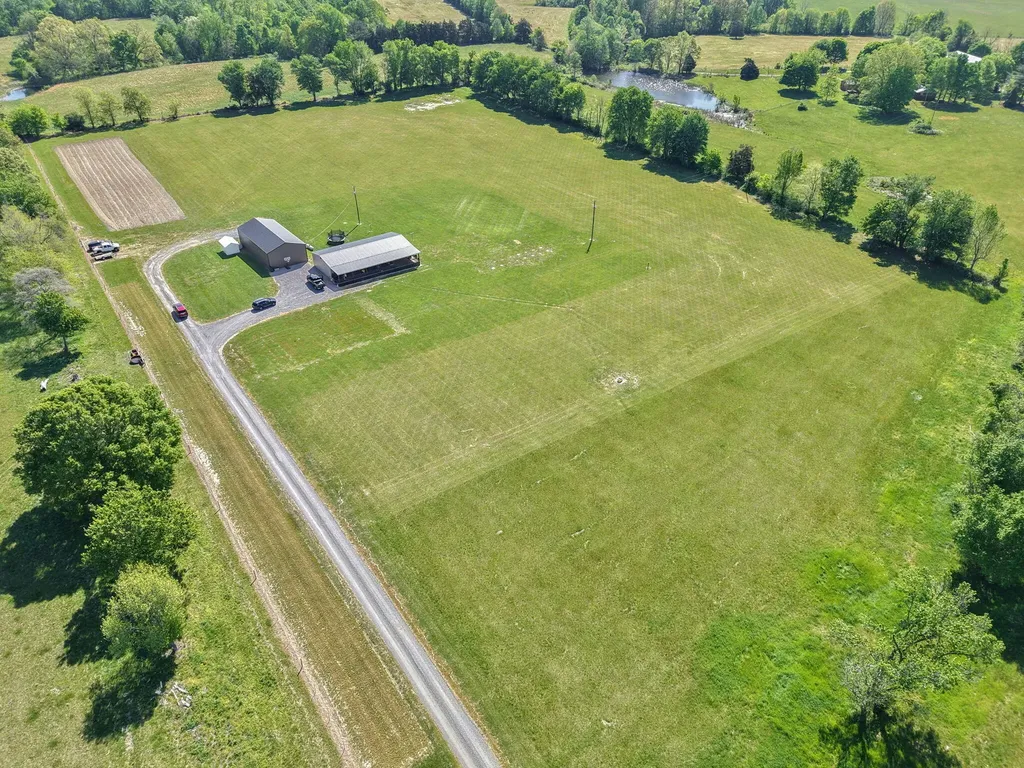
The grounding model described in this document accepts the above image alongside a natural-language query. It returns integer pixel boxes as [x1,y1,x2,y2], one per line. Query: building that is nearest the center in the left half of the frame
[315,231,421,285]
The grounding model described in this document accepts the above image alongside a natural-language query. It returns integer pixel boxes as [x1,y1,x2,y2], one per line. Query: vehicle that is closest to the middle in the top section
[305,276,327,290]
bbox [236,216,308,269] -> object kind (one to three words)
building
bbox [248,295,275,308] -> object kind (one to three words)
vehicle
